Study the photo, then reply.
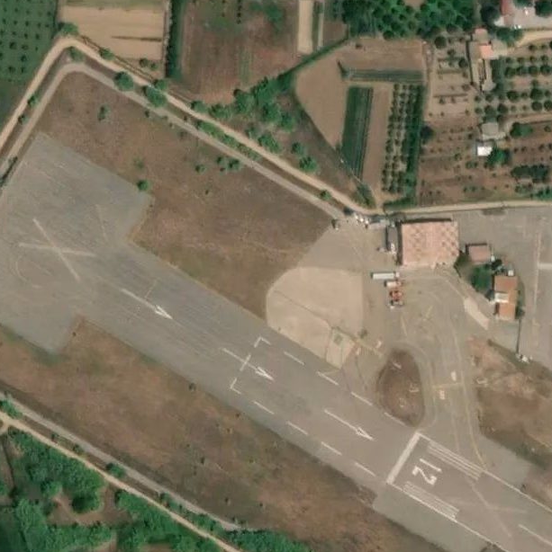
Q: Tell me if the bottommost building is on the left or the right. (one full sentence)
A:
It is on the right.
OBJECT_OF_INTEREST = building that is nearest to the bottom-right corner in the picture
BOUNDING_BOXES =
[495,275,517,320]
